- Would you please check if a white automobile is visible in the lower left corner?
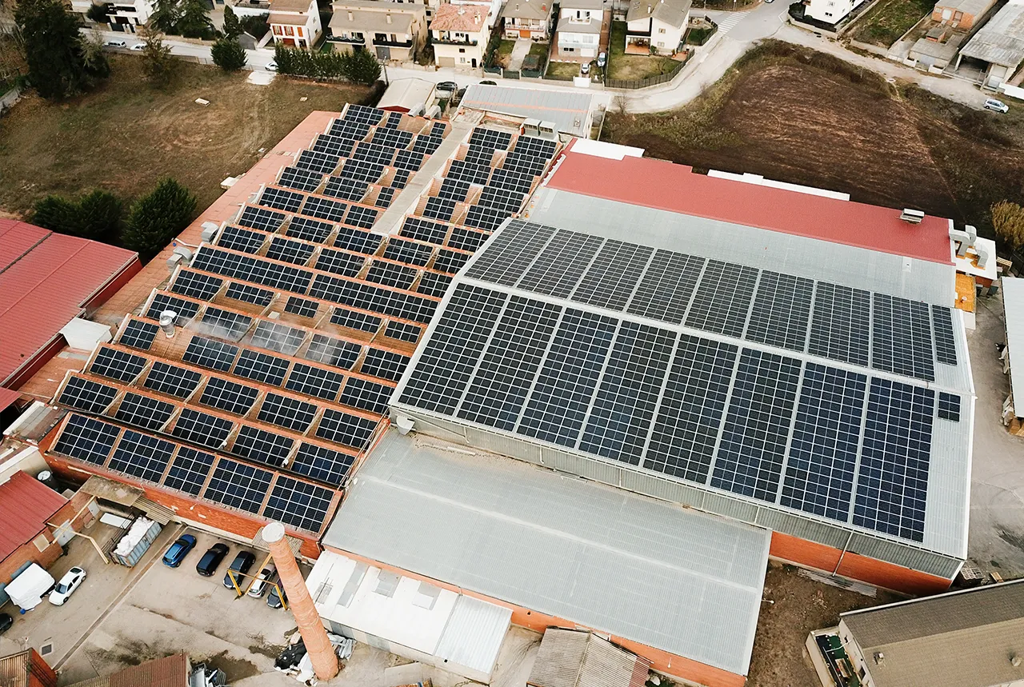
Yes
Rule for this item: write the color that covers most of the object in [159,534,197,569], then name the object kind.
blue car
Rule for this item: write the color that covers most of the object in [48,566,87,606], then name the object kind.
white car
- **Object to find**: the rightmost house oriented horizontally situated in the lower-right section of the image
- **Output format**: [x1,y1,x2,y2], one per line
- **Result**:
[802,575,1024,687]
